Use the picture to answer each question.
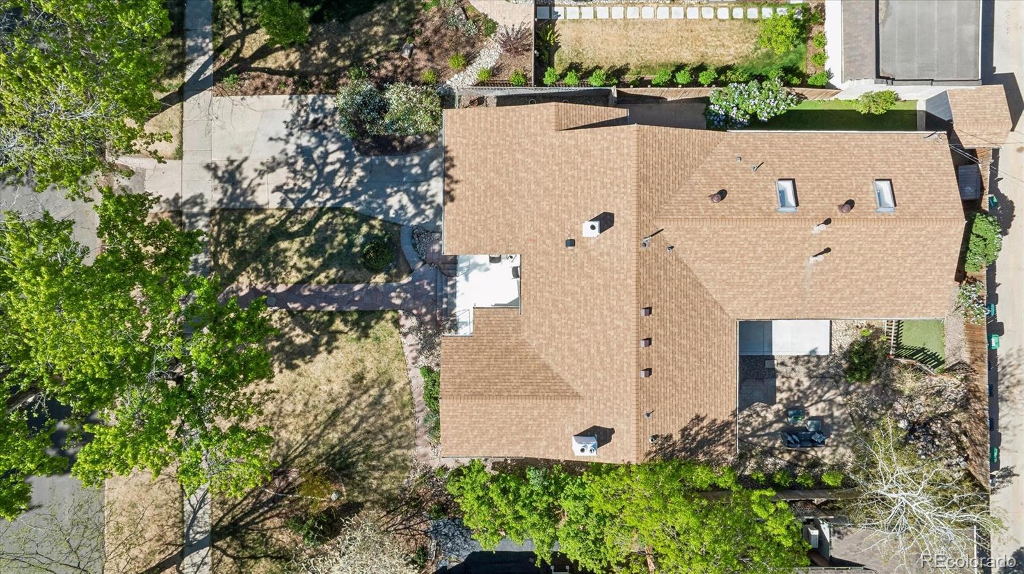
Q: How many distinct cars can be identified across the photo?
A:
zero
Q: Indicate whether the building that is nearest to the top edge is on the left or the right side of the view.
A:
right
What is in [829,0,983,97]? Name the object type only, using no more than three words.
building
